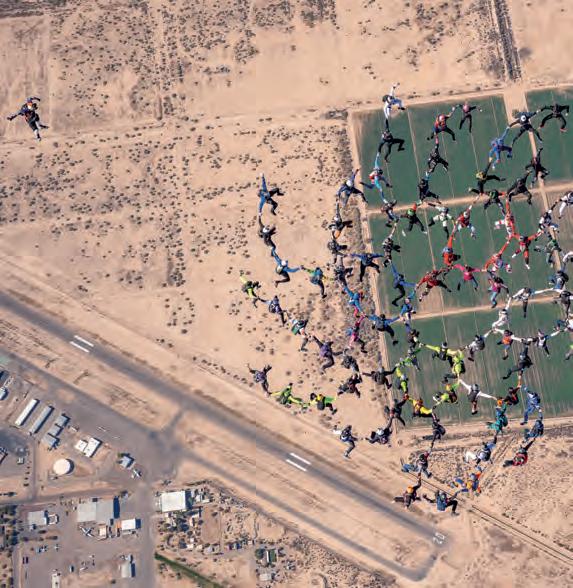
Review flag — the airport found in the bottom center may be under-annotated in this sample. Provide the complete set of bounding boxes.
[0,291,454,579]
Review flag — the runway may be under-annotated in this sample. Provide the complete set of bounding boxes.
[0,291,454,553]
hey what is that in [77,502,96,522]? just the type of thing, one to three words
hangar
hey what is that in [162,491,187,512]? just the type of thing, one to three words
hangar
